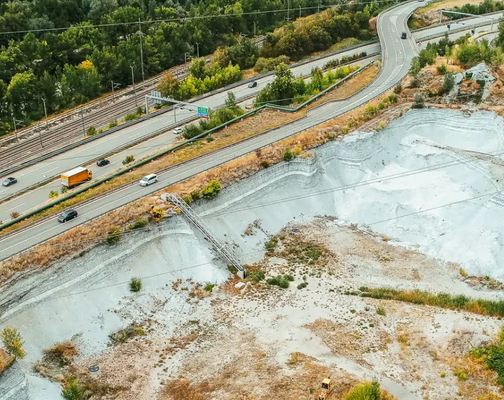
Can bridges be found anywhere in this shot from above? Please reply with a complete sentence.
Yes, a bridge can be made out from above.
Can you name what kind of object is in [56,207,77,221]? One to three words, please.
vehicle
